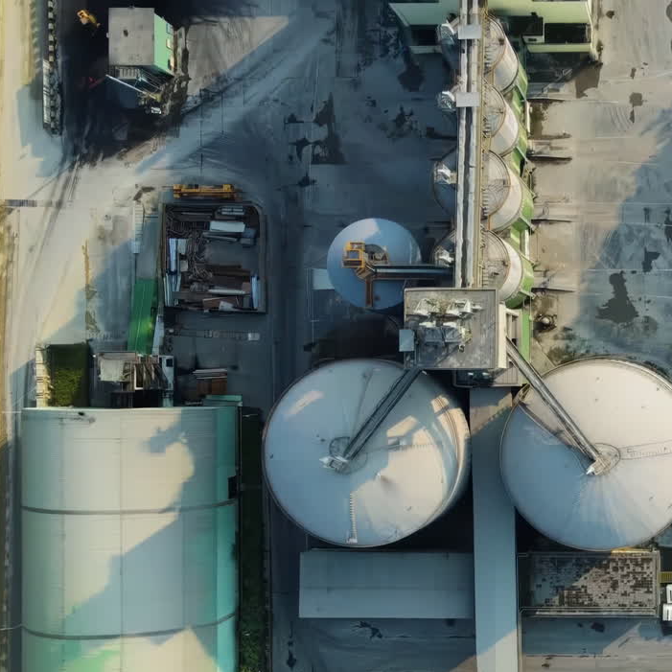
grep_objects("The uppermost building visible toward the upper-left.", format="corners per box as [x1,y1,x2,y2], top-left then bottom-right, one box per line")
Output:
[108,6,186,78]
